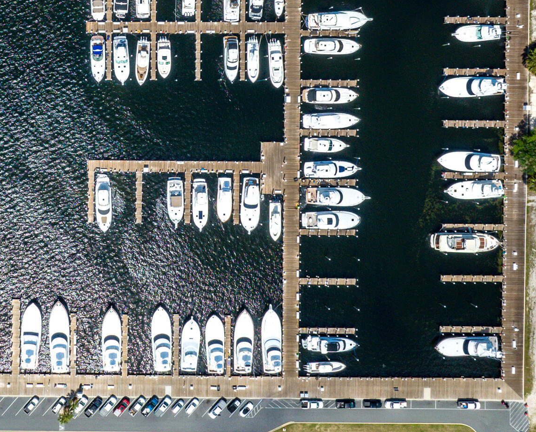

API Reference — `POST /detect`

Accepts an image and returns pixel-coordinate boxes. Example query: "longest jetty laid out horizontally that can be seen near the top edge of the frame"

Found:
[85,21,287,35]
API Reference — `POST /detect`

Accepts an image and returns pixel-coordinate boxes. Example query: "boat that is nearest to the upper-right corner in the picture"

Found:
[451,24,503,43]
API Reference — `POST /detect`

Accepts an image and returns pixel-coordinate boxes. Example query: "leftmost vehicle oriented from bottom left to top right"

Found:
[23,394,40,416]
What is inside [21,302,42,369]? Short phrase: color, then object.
white boat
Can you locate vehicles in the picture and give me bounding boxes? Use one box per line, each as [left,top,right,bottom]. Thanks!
[153,393,171,418]
[361,400,383,409]
[50,394,67,416]
[85,395,103,418]
[170,398,185,415]
[128,394,146,417]
[456,400,480,411]
[225,394,241,416]
[335,400,355,410]
[184,397,200,415]
[23,394,40,416]
[301,399,323,410]
[384,400,407,409]
[72,394,89,418]
[239,401,253,417]
[112,395,130,418]
[208,397,226,419]
[139,394,159,418]
[98,394,118,418]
